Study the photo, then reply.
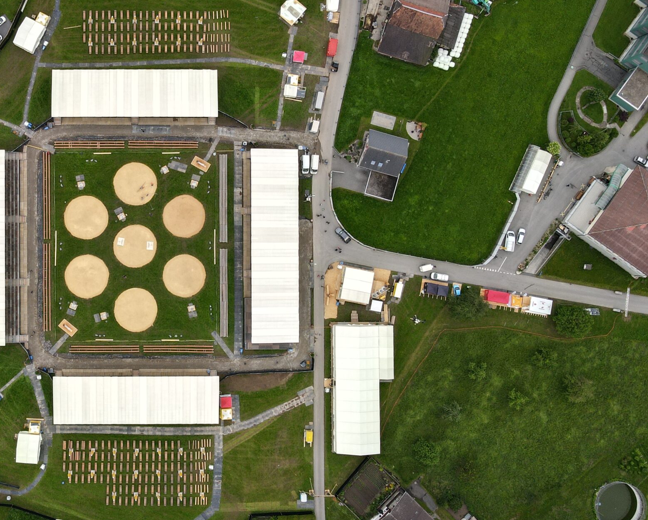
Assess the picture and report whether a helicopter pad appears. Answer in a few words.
No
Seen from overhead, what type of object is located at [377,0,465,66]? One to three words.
barn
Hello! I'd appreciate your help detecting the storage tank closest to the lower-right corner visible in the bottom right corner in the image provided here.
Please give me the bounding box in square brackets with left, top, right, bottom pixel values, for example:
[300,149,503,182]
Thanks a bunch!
[593,480,648,520]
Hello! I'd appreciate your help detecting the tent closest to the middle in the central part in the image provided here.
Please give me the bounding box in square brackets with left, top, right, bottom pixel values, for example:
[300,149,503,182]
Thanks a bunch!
[336,265,376,305]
